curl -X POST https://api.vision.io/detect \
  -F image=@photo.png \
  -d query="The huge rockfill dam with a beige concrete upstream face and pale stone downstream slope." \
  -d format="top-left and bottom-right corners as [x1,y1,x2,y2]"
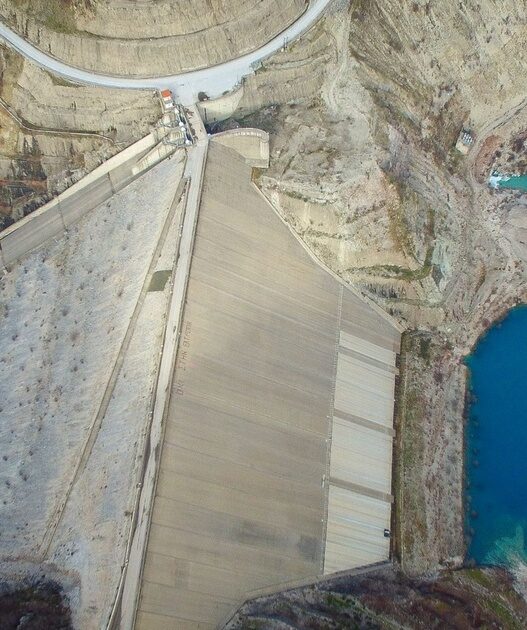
[0,138,406,630]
